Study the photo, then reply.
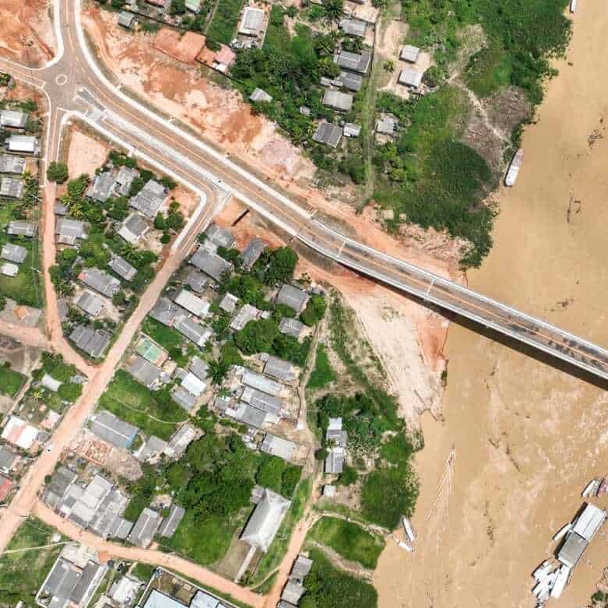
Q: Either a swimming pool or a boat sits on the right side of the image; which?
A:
boat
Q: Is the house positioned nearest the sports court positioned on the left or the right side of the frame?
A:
left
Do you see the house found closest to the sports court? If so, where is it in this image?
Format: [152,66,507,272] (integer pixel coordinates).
[128,356,163,387]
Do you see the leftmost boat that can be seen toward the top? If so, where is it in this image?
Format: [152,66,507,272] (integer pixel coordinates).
[504,149,520,187]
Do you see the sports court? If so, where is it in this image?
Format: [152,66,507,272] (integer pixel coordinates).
[134,338,167,368]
